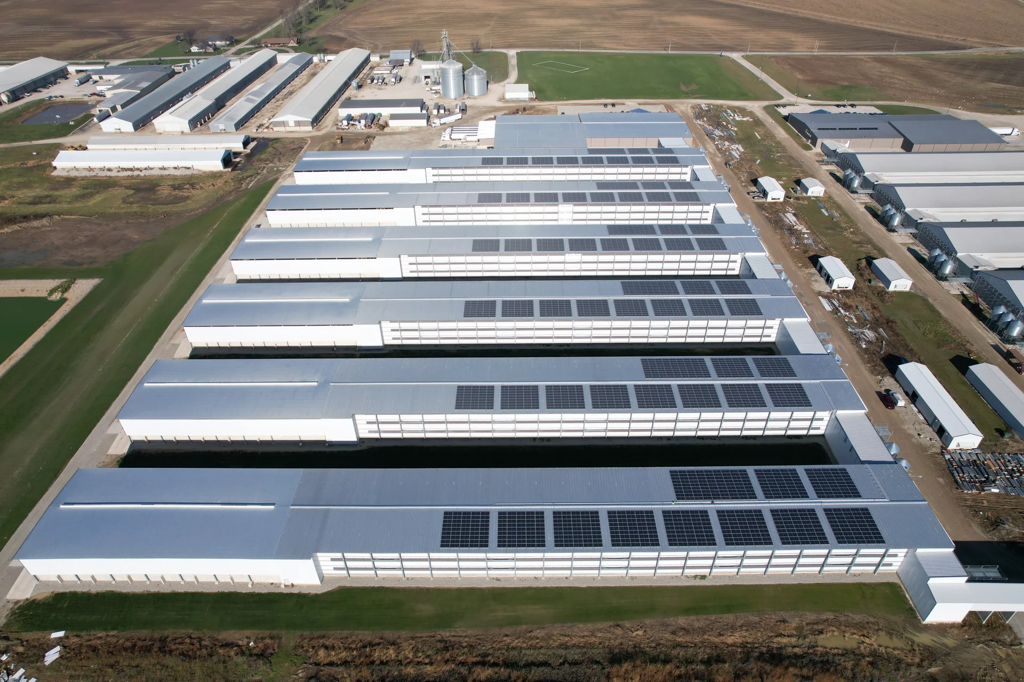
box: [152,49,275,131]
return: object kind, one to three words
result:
barn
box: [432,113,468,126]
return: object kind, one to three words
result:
vehicle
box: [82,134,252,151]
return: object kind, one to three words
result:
shed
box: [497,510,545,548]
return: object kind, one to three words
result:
solar array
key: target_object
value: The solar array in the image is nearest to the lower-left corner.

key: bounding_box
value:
[440,510,489,548]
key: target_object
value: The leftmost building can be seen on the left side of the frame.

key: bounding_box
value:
[0,56,67,104]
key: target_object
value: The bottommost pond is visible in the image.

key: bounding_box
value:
[0,297,66,366]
